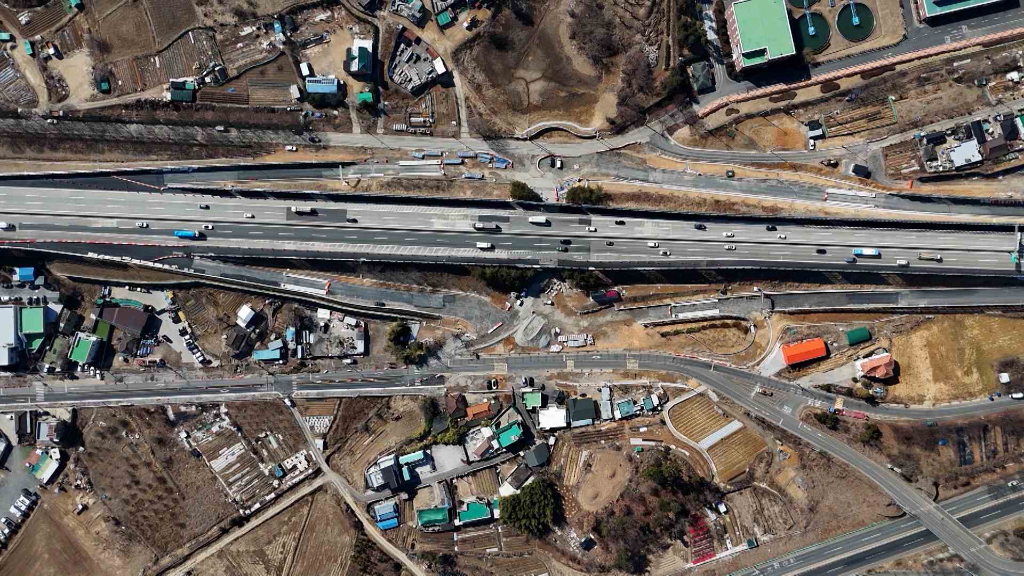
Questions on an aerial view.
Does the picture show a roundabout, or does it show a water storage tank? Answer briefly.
water storage tank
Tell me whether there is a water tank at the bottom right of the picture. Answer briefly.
No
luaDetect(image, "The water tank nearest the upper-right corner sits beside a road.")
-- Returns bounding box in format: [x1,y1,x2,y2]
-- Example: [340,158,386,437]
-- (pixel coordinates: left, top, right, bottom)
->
[835,0,877,42]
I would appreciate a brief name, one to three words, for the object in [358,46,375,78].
house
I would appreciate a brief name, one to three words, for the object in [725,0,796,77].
building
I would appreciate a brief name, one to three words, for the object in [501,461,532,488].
barn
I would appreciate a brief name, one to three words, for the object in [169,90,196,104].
shed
